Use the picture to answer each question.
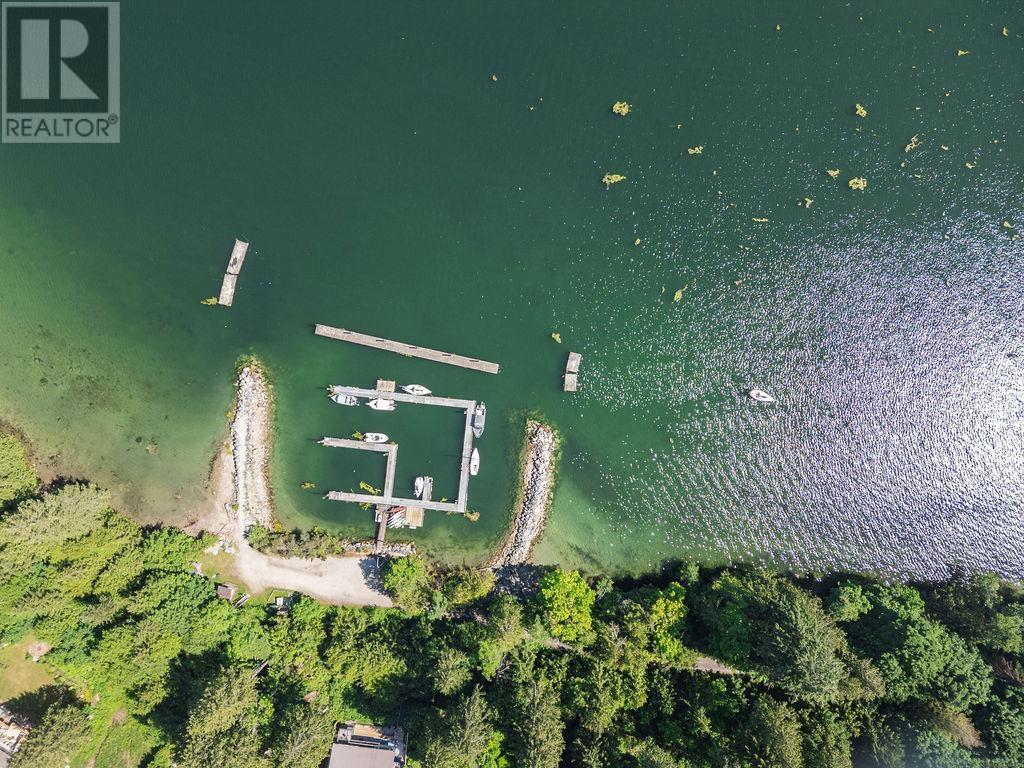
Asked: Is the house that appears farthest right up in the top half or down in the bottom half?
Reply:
bottom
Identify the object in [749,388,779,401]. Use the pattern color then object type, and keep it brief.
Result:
white boat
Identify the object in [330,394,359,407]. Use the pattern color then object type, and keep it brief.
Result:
white boat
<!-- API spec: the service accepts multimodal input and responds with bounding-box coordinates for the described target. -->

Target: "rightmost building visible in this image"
[330,720,407,768]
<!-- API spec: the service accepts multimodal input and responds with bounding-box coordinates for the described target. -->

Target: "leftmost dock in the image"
[226,353,288,543]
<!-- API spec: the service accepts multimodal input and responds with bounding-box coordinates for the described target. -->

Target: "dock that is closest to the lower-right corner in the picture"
[476,409,566,577]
